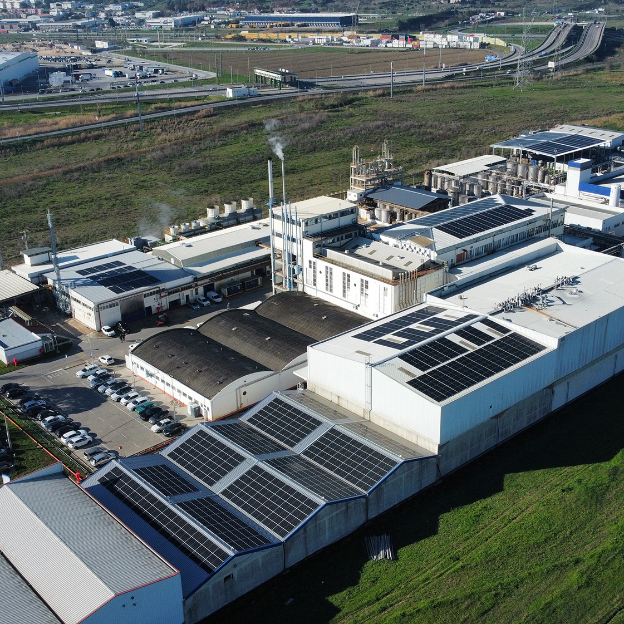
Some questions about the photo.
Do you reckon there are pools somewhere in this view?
No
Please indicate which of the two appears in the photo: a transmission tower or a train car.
transmission tower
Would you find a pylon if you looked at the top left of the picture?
No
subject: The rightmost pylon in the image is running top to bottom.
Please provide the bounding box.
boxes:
[551,25,571,72]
